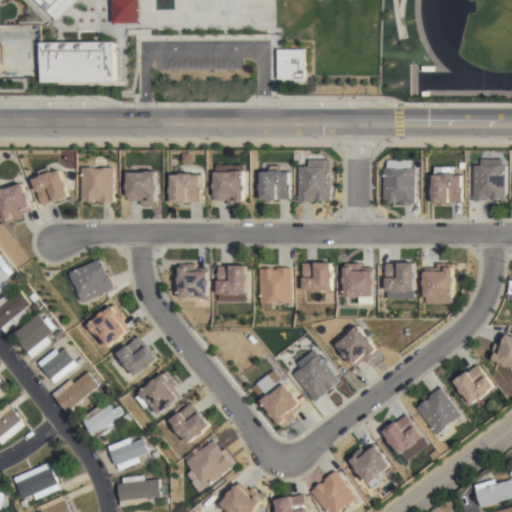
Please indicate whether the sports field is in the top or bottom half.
top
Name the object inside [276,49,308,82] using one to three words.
building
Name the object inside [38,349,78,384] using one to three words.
house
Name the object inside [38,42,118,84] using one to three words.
building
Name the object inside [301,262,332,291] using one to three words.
house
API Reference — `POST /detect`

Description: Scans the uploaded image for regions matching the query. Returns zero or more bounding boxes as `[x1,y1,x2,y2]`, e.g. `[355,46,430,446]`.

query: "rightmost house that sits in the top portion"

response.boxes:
[472,158,506,202]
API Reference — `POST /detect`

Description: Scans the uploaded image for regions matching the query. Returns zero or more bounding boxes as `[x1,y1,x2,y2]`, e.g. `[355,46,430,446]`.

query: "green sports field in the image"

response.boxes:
[276,0,380,76]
